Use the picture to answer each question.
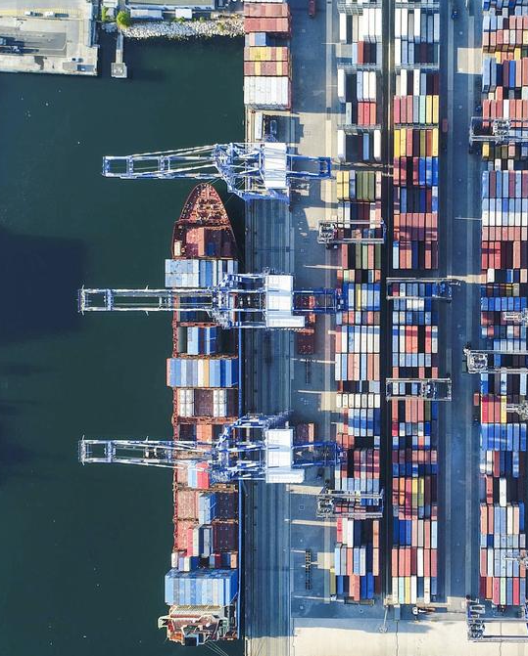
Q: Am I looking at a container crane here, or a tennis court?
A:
container crane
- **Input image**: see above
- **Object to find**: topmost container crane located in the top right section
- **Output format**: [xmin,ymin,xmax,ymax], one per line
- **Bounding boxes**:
[468,116,528,154]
